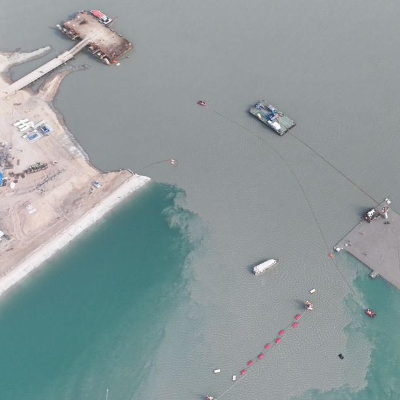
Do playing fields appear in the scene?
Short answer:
No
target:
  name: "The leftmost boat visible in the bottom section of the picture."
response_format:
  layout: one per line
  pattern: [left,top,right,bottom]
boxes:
[251,259,277,274]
